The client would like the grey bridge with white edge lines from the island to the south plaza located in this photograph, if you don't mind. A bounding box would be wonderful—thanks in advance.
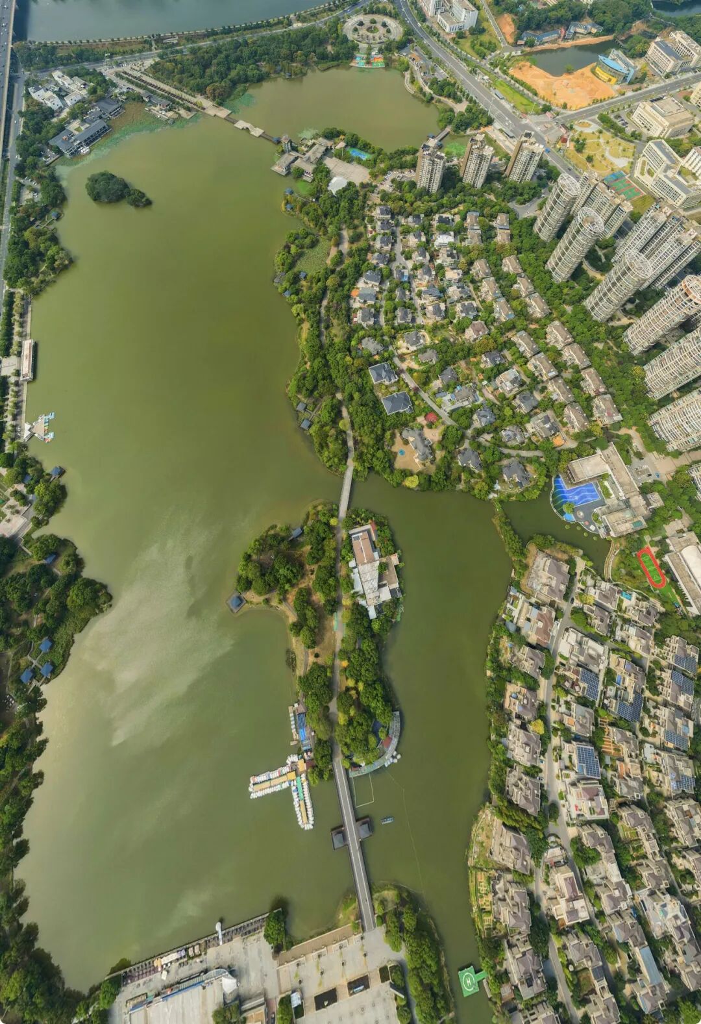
[330,756,377,936]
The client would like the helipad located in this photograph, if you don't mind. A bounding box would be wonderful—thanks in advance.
[458,964,487,997]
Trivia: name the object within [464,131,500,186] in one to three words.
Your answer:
building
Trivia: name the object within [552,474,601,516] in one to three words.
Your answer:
swimming pool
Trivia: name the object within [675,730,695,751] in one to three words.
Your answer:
solar panel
